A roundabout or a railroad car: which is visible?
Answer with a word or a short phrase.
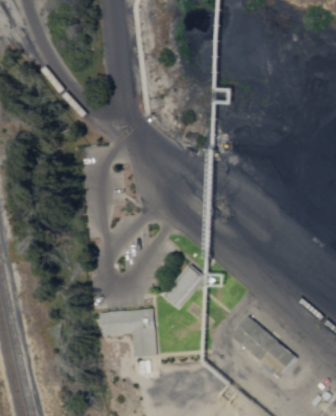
railroad car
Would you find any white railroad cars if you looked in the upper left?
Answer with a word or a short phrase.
Yes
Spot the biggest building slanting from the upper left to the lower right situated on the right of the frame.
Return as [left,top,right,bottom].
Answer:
[234,317,298,376]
